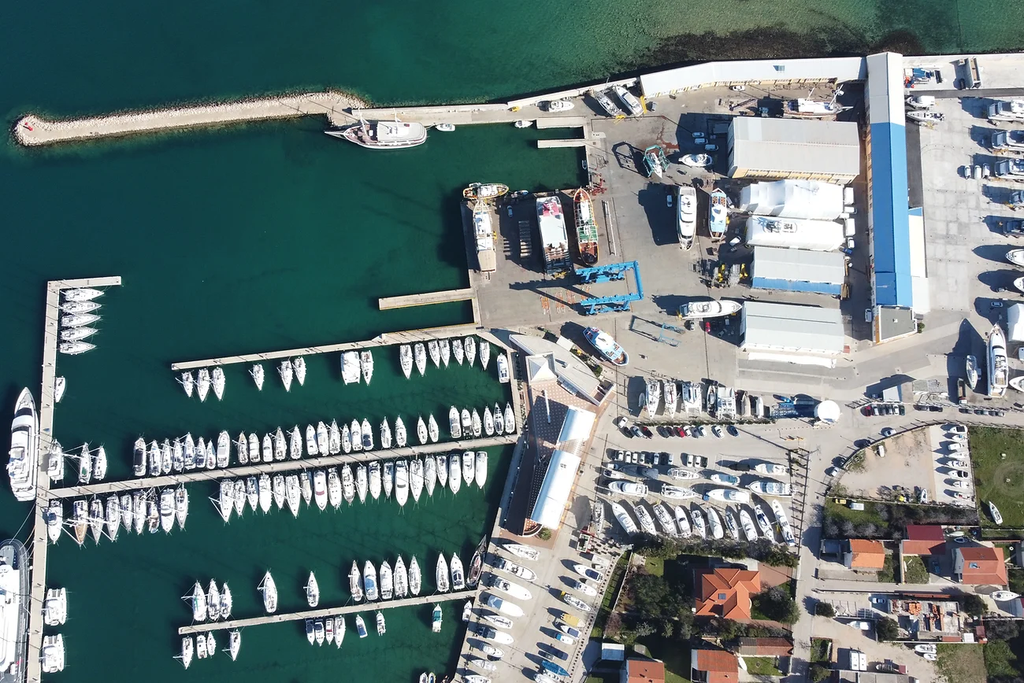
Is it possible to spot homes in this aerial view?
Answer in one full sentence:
Yes, looking at the shot, I can spot a home.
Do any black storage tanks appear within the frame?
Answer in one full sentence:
No, this view has no black storage tank in it.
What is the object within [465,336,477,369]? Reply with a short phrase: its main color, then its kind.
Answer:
white boat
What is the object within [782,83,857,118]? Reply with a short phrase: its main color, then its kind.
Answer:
white ship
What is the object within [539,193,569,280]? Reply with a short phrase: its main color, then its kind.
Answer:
white ship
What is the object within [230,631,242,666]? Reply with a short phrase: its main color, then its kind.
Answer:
white boat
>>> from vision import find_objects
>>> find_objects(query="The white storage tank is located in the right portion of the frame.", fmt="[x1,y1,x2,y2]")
[806,399,841,432]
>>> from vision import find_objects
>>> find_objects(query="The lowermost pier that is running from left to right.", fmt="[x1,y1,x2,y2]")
[178,590,476,635]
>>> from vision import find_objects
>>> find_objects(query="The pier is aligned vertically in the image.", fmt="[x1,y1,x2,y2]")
[31,276,123,683]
